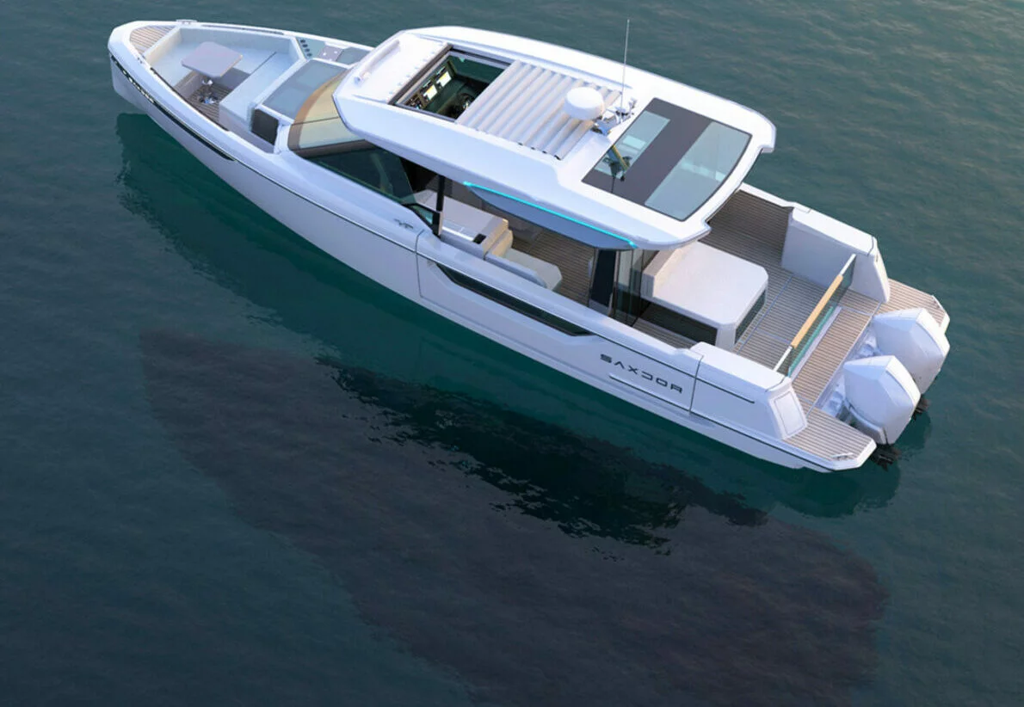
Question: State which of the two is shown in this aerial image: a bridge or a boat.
boat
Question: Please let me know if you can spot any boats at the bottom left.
No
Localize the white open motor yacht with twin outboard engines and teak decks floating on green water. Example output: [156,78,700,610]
[103,17,954,473]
